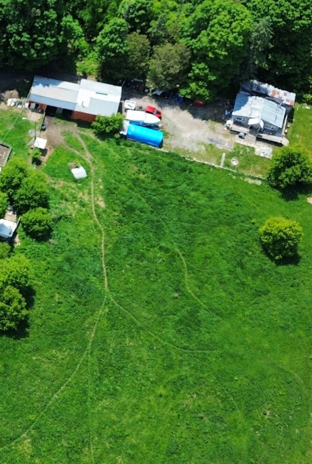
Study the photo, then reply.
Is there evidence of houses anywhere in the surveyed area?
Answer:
Yes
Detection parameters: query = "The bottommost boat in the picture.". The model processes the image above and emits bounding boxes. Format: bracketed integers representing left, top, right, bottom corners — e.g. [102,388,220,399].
[126,126,160,148]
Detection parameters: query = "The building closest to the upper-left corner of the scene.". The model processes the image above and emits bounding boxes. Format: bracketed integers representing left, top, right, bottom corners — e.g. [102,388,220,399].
[24,75,76,118]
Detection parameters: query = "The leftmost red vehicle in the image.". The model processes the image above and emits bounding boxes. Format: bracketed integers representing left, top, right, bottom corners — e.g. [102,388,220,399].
[141,104,166,120]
